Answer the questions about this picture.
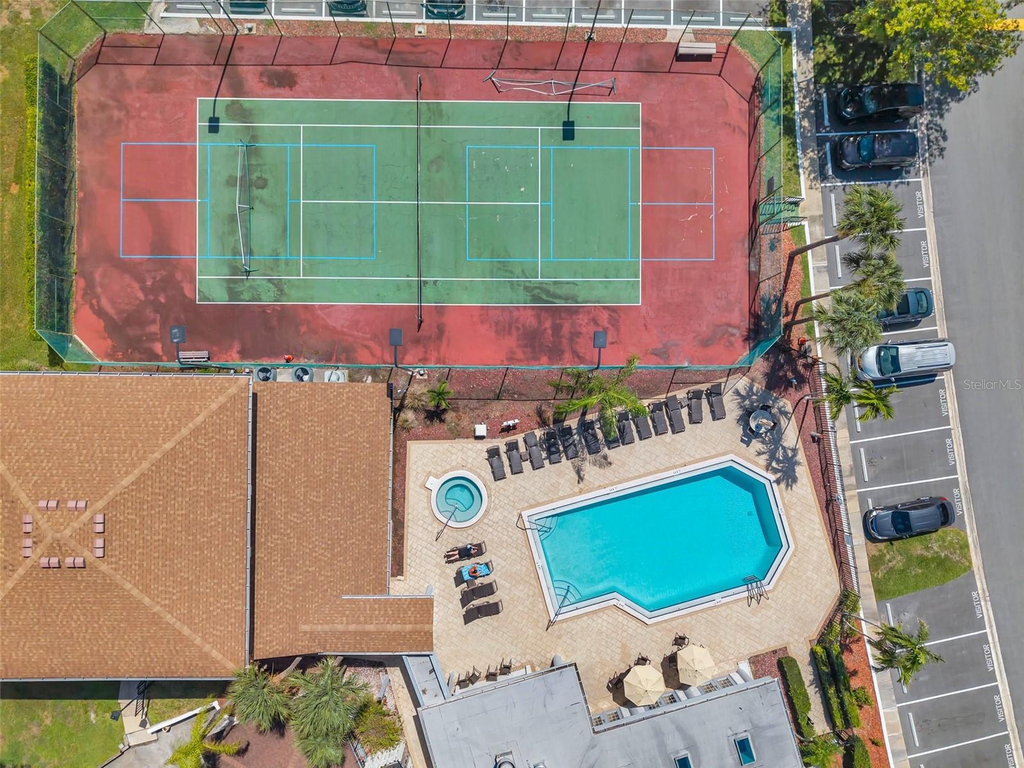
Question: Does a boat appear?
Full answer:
No, no boat can be seen from above.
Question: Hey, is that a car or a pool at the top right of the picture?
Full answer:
Looking at the top right of the picture, you will find a car.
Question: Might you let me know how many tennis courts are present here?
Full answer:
The picture shows 1 tennis court.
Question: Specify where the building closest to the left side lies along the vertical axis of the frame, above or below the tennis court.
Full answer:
The building closest to the left side is located below the tennis court in this view.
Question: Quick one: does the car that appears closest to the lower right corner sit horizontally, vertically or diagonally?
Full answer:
The car that appears closest to the lower right corner runs horizontally in the image.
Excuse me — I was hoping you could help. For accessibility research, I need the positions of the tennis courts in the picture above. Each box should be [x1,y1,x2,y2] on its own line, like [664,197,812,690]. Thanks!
[75,33,760,366]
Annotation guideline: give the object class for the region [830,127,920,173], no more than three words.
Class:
car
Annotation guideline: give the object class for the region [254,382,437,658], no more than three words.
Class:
building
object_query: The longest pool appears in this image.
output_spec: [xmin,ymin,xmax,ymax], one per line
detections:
[517,455,794,628]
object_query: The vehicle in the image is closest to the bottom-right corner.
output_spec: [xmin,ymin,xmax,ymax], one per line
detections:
[858,497,954,547]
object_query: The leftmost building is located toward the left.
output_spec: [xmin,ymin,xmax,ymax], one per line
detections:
[0,371,254,681]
